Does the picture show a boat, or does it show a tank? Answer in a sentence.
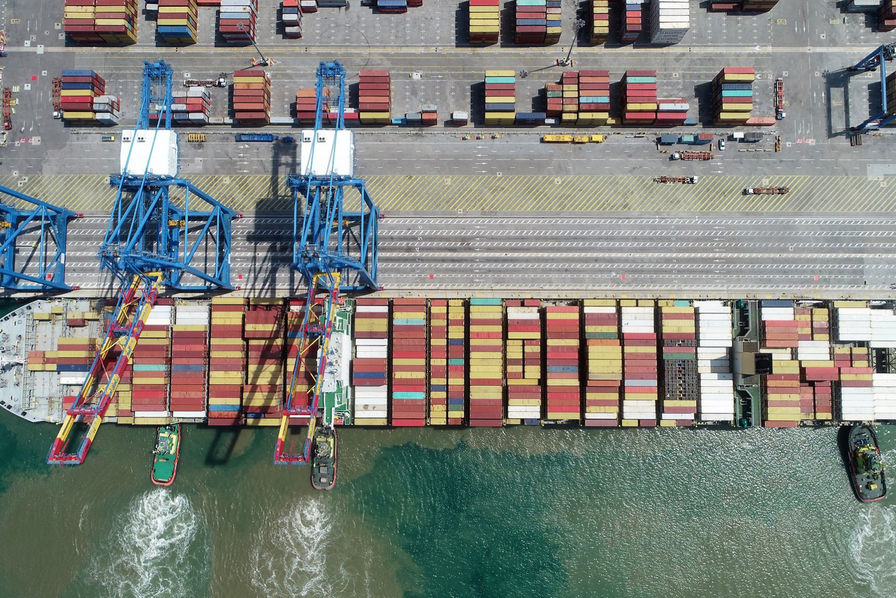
It is a boat that can be seen here.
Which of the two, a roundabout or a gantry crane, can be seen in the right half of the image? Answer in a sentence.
There is a gantry crane in the right half of the image.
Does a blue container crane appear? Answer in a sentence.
Yes, there is a blue container crane in the image.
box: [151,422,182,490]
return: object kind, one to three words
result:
boat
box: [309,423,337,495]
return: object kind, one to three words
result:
boat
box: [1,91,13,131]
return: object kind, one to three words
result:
vehicle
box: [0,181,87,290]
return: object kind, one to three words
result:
container crane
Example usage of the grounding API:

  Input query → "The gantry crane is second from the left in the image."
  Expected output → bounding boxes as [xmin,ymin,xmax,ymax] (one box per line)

[46,59,244,465]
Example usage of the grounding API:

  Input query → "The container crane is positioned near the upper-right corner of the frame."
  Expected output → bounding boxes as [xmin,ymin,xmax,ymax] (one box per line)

[846,45,896,133]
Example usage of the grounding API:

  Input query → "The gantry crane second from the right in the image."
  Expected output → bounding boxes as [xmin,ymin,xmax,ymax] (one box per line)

[273,60,384,465]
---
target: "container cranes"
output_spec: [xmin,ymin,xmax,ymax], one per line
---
[273,60,384,465]
[0,181,87,290]
[46,59,244,465]
[846,45,896,133]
